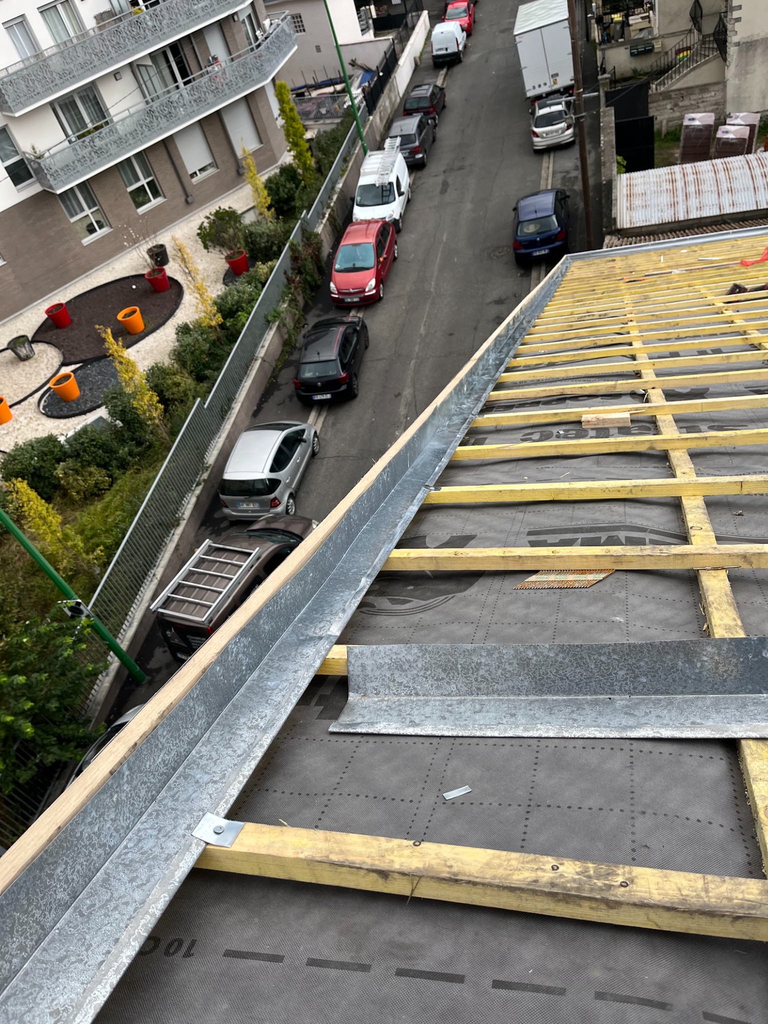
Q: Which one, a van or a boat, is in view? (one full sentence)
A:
It is a van that can be seen here.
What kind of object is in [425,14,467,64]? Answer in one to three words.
van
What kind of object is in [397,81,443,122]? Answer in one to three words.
car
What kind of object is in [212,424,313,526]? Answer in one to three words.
car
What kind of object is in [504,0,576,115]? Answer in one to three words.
truck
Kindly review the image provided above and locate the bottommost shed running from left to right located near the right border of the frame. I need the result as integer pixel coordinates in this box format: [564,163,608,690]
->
[618,152,768,236]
